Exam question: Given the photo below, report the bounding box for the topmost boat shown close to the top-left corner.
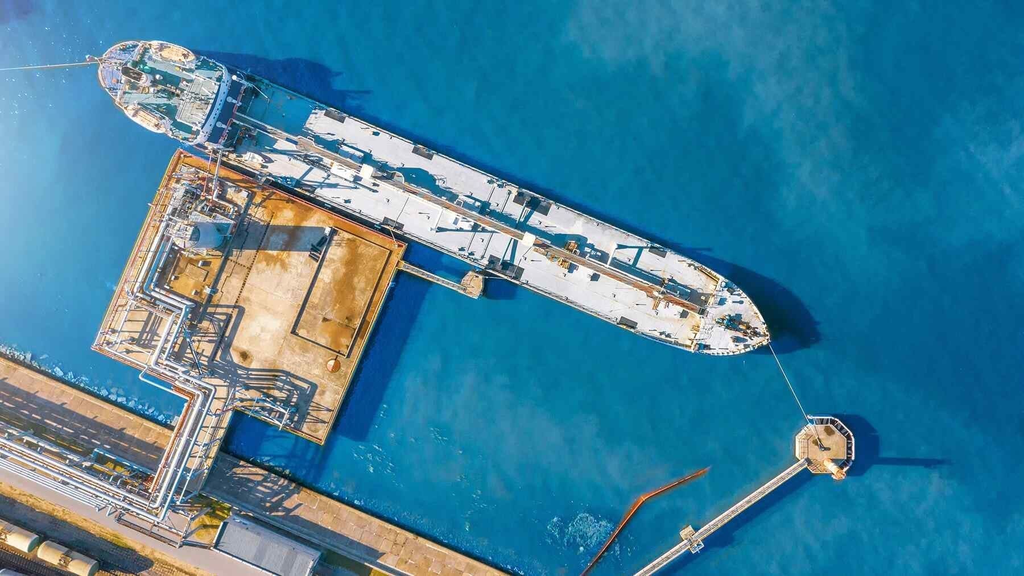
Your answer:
[148,39,197,65]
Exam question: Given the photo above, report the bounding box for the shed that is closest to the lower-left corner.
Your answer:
[216,508,326,576]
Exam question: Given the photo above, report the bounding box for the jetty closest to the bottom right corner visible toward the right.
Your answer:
[678,524,704,560]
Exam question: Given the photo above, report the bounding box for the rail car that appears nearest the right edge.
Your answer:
[32,536,107,576]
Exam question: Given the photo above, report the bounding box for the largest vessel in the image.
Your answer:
[80,38,772,353]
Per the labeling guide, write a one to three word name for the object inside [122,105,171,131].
boat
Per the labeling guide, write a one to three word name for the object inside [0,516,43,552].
rail car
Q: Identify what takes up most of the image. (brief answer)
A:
water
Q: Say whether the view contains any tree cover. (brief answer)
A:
No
